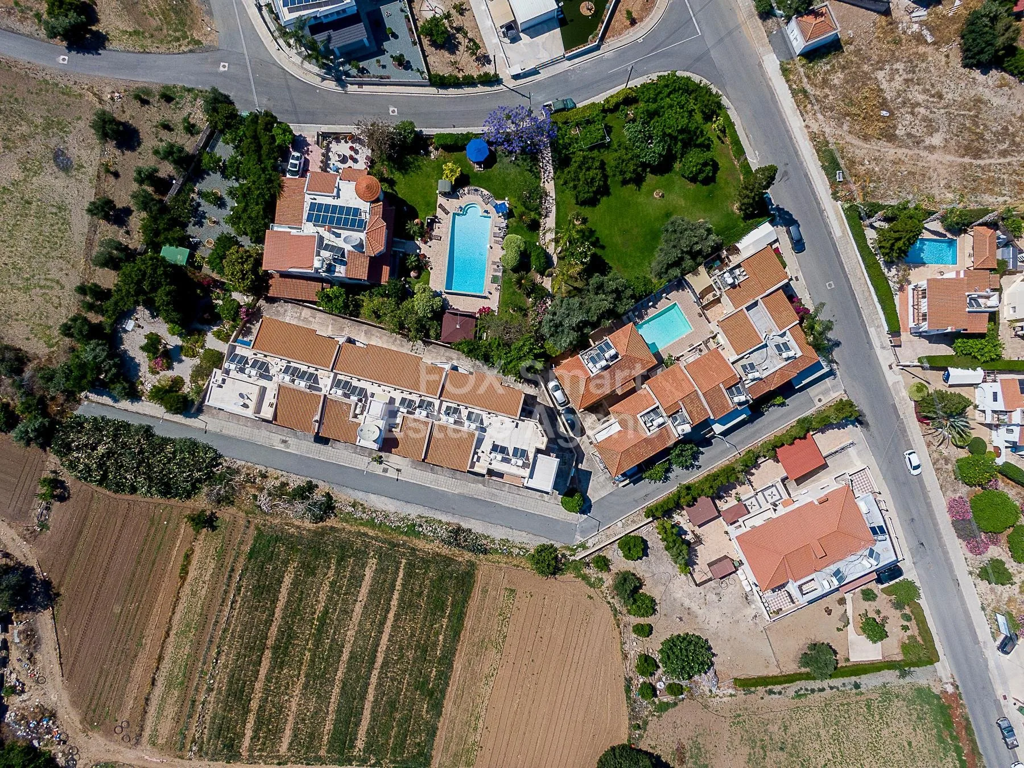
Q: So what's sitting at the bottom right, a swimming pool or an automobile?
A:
automobile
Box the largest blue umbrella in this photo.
[466,140,488,162]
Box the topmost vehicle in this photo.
[501,21,516,42]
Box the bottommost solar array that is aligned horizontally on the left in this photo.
[306,202,366,230]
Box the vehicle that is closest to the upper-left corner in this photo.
[287,151,302,178]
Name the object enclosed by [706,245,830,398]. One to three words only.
house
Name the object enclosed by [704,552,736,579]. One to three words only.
gazebo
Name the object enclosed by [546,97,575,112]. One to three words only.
vehicle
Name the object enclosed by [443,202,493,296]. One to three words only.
swimming pool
